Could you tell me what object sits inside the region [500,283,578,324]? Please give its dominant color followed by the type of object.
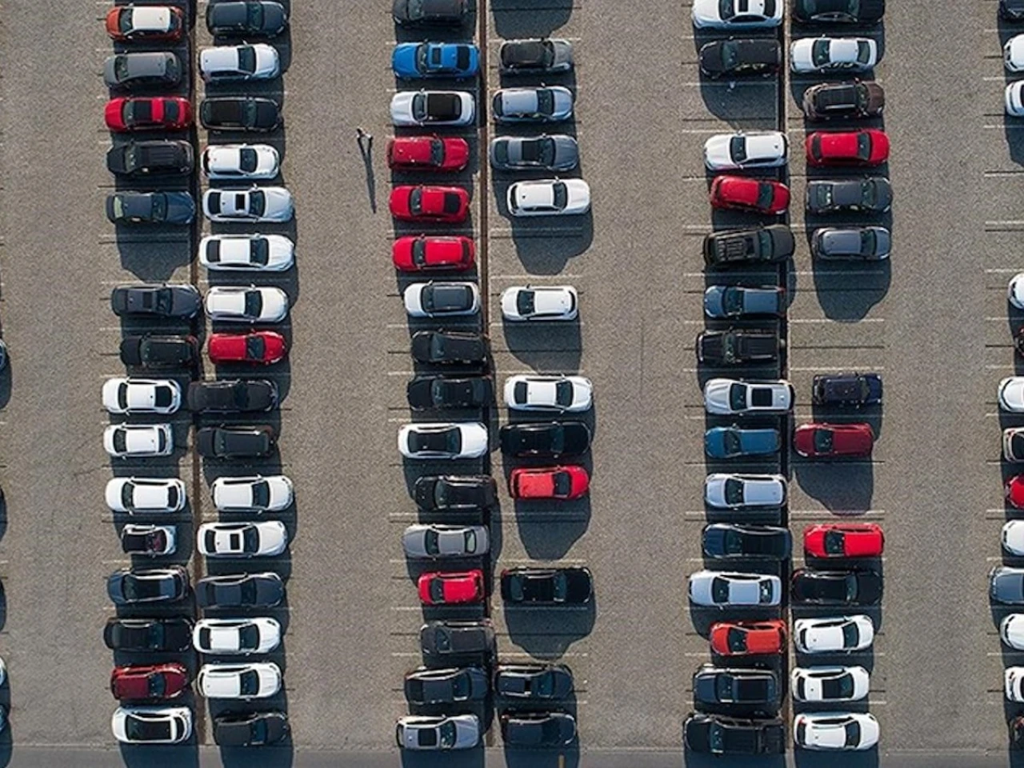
white car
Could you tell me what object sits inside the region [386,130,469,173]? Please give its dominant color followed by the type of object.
red car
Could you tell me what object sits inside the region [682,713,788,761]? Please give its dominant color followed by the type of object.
black truck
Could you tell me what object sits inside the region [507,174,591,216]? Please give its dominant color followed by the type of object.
white car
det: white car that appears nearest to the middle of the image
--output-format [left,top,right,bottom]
[503,374,594,414]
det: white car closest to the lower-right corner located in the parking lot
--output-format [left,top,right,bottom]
[1001,664,1024,703]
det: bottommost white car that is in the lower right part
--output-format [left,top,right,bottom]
[792,712,881,757]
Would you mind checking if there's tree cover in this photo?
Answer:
No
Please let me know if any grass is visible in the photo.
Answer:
No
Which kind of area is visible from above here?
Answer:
parking lot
